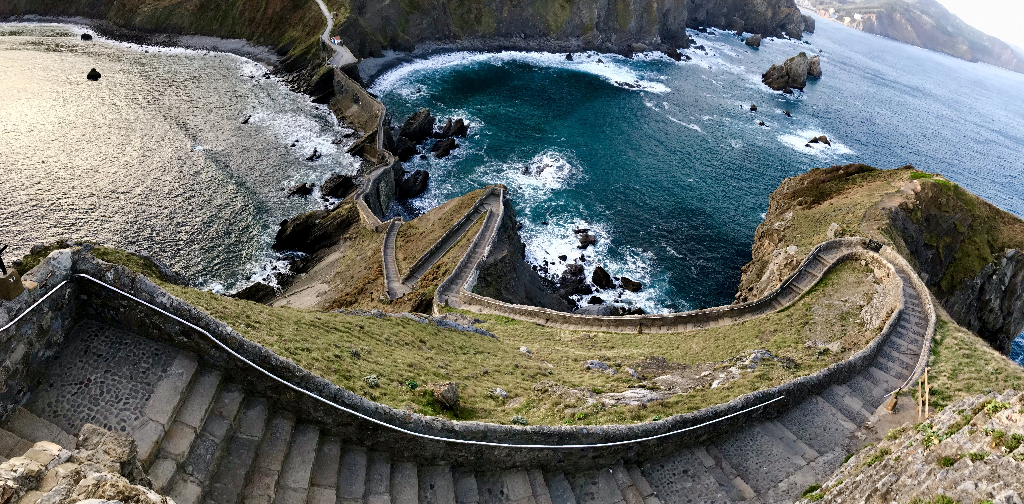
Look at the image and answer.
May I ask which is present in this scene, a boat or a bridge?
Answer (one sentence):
The image shows a bridge.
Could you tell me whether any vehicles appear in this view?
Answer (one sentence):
No, there appears to be no vehicle in this shot.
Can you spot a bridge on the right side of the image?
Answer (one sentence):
No, no bridge is visible on the right side of the image.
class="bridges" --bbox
[337,65,398,227]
